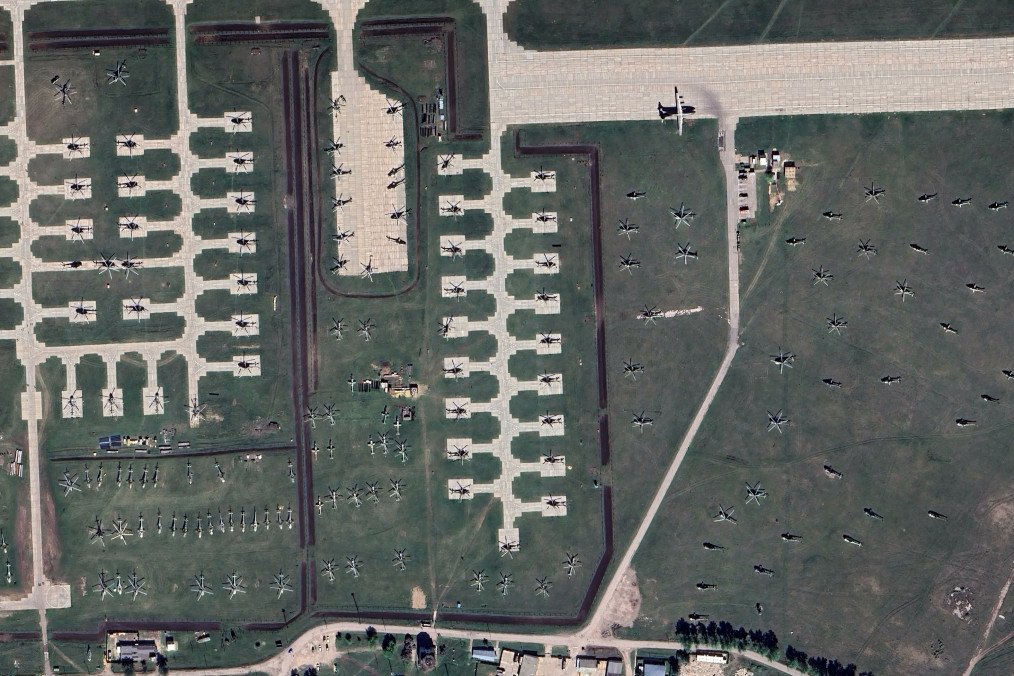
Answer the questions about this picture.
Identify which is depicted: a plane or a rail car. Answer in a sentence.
The one in the frame is a plane.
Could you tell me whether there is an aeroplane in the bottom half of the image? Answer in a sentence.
No, no aeroplane appears in the bottom half of the image.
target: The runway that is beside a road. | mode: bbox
[504,38,1014,126]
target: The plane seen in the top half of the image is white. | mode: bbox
[660,93,696,135]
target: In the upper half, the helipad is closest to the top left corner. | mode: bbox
[63,137,90,158]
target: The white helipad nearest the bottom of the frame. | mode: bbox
[46,585,70,608]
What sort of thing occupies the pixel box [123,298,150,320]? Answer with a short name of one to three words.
helipad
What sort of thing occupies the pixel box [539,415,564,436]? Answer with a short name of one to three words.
helipad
